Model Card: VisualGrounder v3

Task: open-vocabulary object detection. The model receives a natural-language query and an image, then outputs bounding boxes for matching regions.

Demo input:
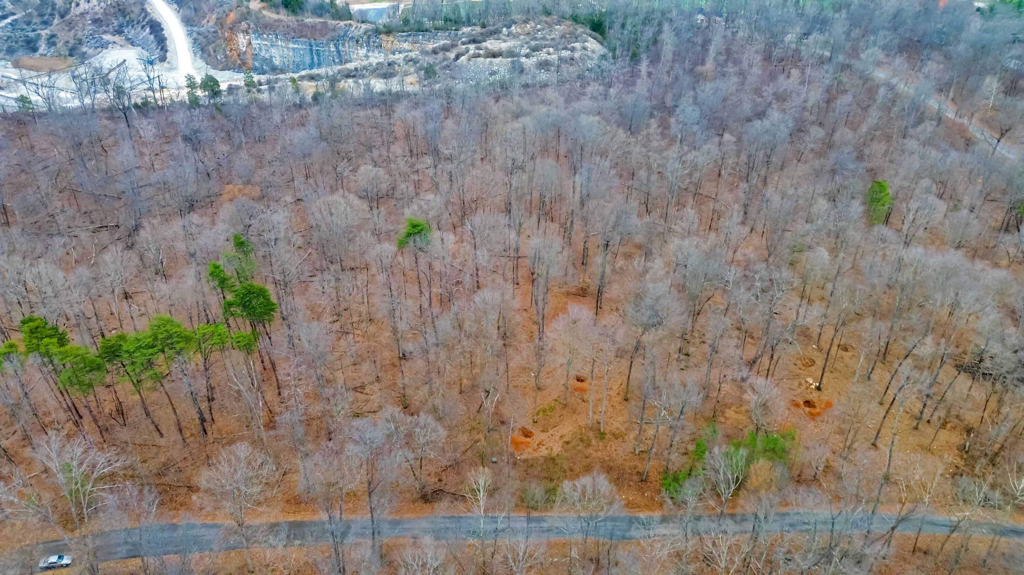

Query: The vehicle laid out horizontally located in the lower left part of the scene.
[37,556,72,574]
